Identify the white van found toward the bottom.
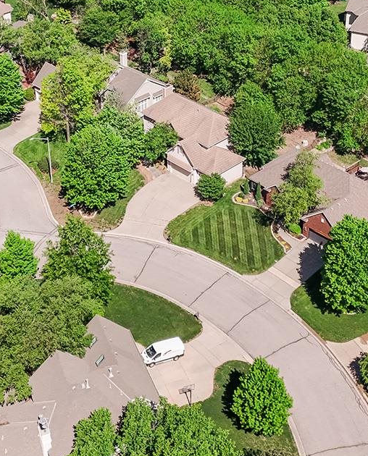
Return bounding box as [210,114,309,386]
[138,330,187,365]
